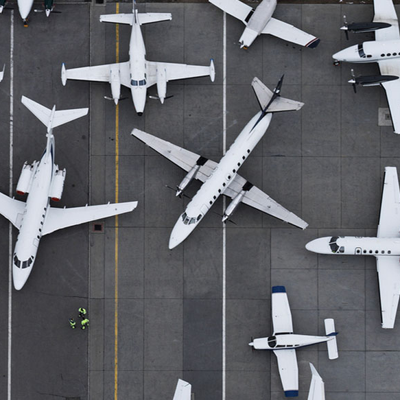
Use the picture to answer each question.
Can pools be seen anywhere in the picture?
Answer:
No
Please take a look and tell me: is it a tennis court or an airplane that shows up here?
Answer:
airplane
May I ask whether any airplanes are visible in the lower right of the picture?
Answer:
Yes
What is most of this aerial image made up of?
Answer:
paved ground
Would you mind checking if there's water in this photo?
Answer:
No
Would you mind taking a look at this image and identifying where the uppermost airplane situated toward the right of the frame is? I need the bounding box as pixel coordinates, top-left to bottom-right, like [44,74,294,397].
[211,0,322,53]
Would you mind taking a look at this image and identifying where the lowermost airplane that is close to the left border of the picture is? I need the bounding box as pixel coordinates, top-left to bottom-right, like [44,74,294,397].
[0,94,134,291]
